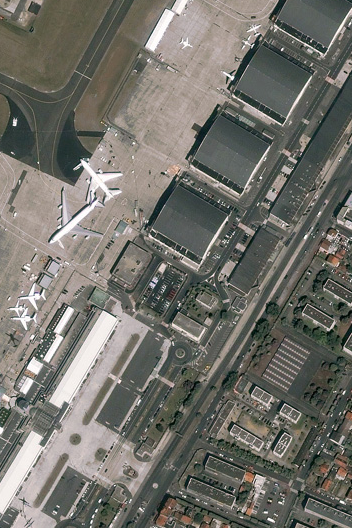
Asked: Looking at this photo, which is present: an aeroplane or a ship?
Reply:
aeroplane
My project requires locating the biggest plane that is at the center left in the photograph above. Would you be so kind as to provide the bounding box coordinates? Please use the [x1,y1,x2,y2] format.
[50,188,106,243]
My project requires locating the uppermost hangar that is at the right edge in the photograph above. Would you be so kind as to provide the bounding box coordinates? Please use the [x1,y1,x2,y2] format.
[273,0,352,57]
